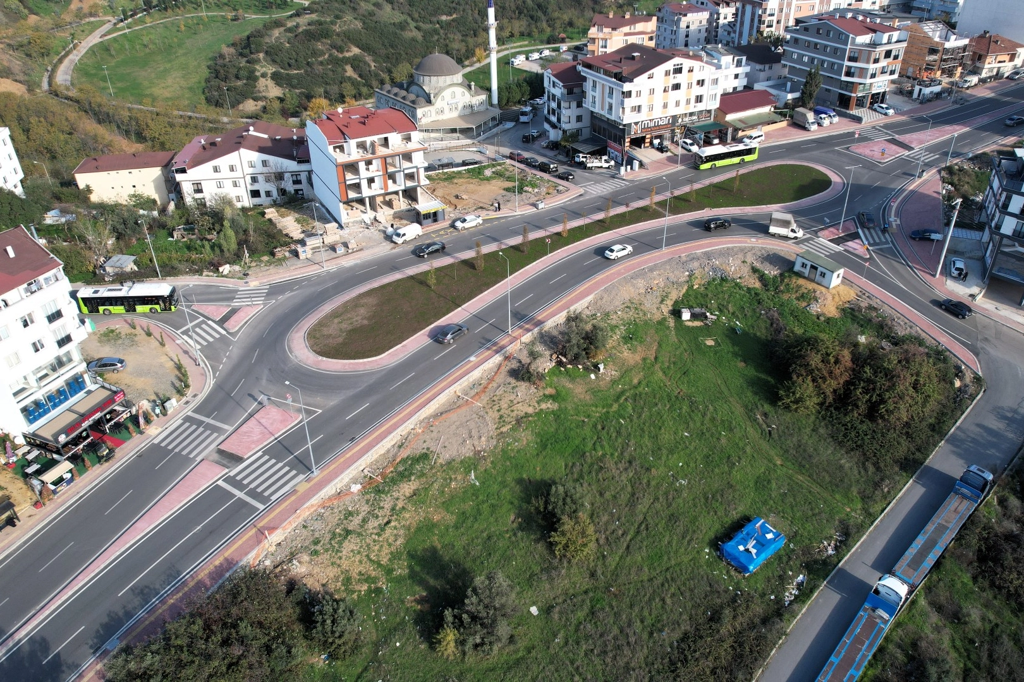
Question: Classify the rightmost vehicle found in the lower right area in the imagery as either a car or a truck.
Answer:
truck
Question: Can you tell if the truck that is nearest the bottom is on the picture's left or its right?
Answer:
right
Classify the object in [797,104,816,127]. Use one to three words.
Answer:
vehicle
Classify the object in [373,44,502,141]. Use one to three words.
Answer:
building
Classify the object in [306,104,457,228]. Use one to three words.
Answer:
building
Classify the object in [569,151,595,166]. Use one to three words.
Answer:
car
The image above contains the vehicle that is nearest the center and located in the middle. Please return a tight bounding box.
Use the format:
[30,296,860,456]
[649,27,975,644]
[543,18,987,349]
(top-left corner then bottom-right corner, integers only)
[430,323,470,346]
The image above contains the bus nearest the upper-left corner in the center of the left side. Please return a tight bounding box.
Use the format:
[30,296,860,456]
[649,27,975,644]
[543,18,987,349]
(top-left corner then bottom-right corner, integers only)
[71,282,179,316]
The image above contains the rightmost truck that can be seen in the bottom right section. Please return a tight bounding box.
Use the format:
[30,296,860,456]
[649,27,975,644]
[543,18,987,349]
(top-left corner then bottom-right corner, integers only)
[904,469,997,577]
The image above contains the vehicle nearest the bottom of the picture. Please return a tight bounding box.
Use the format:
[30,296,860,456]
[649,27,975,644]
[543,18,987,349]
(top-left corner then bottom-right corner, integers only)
[818,570,929,682]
